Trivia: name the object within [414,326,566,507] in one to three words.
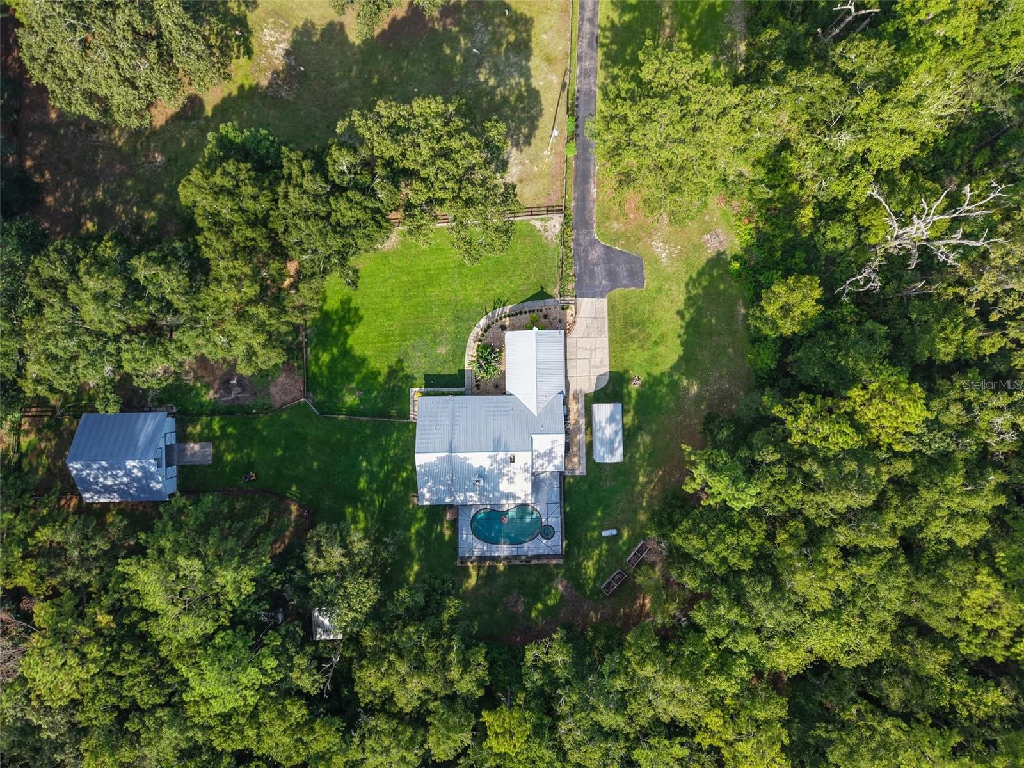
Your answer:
house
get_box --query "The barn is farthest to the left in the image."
[66,413,176,503]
